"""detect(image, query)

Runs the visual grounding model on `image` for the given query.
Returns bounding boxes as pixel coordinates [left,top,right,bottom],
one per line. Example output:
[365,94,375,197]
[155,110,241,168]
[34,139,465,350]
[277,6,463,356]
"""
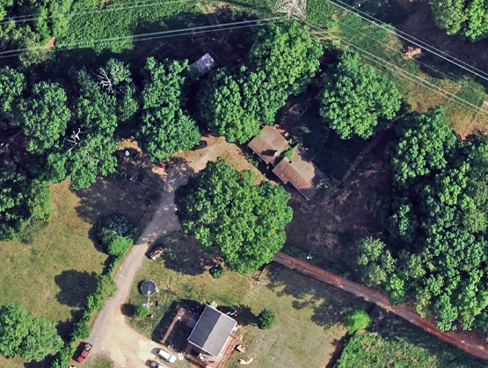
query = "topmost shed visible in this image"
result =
[189,53,214,76]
